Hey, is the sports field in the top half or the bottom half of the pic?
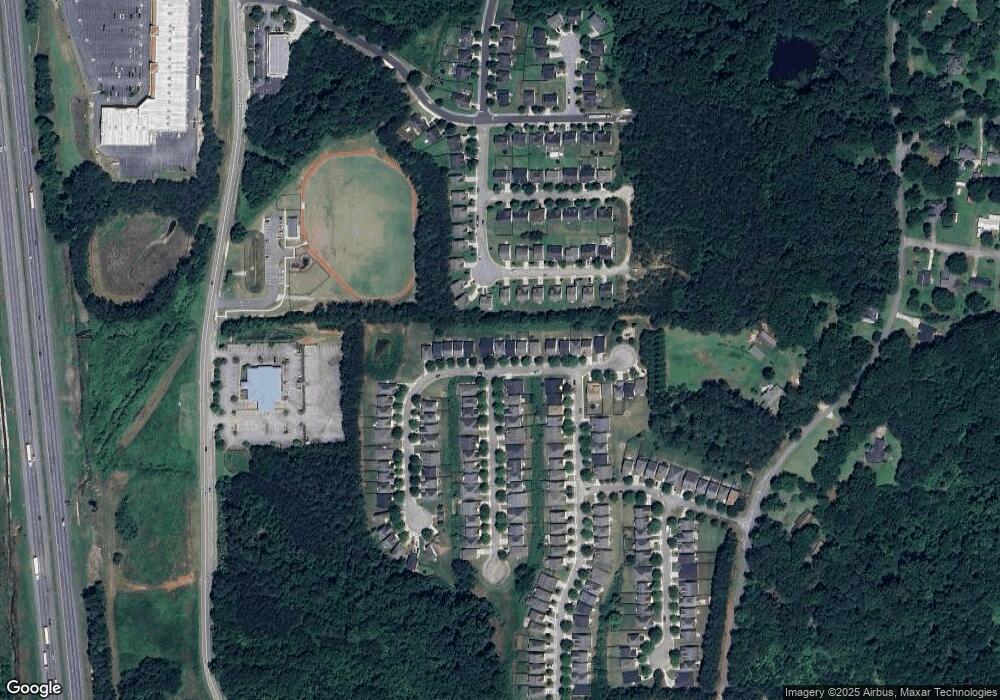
top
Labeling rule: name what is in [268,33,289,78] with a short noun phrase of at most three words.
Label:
building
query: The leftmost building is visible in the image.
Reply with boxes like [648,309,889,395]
[100,0,189,145]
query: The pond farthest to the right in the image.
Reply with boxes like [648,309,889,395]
[769,36,816,82]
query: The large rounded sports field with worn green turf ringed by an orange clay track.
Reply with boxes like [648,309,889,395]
[300,149,416,302]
